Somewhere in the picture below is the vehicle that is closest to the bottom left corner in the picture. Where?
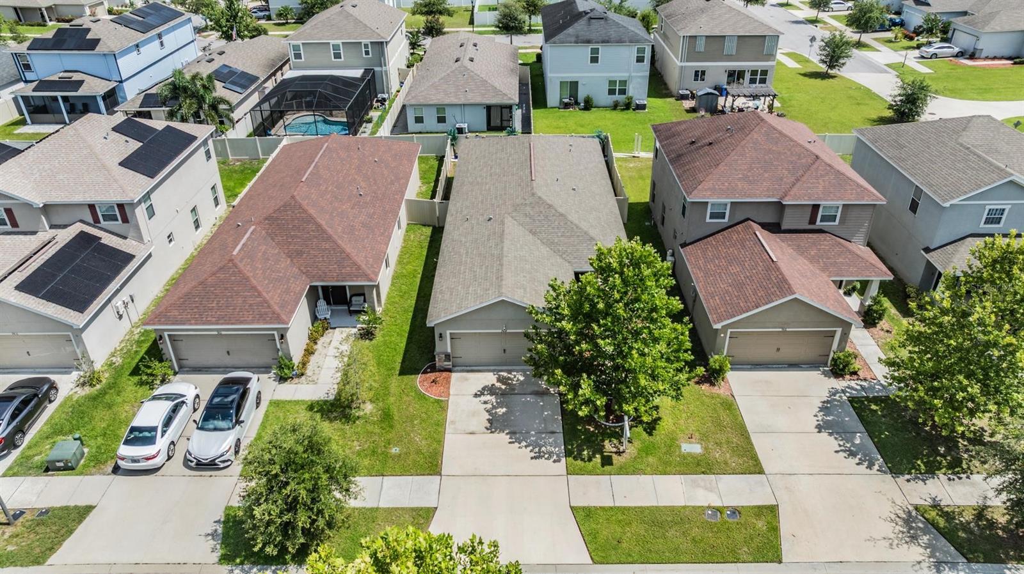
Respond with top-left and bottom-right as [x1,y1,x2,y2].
[0,374,53,452]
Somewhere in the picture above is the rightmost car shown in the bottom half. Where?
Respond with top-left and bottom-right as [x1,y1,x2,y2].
[181,376,255,469]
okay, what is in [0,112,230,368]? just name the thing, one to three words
house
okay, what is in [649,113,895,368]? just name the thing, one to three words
house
